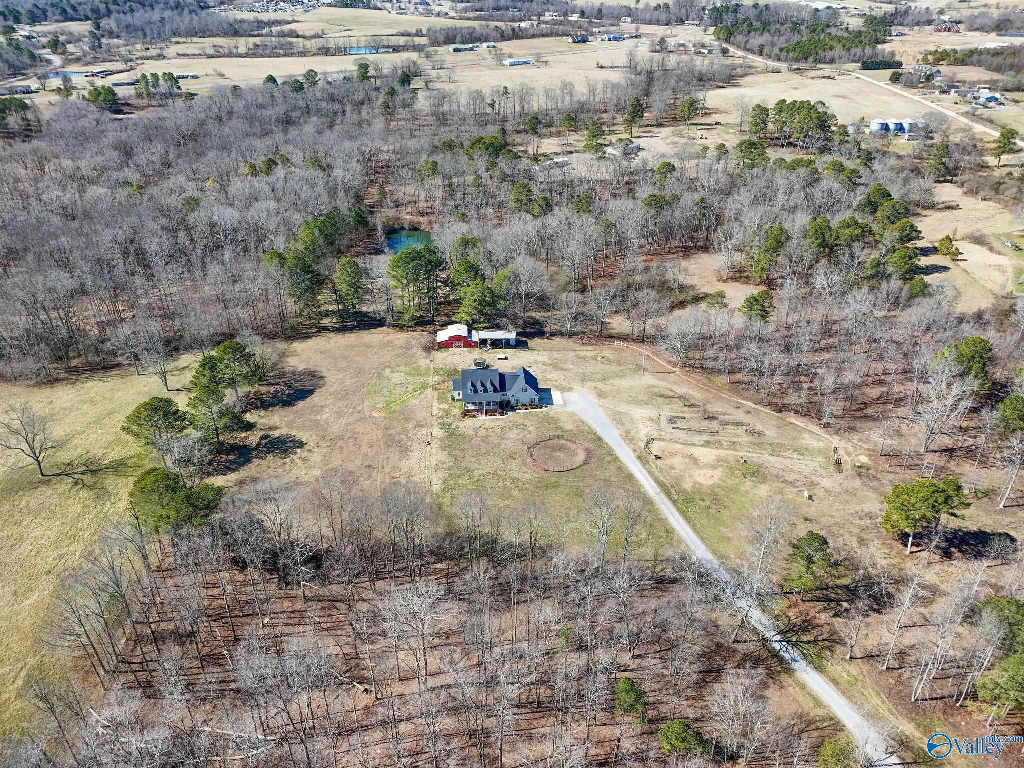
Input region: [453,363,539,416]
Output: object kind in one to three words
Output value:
house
